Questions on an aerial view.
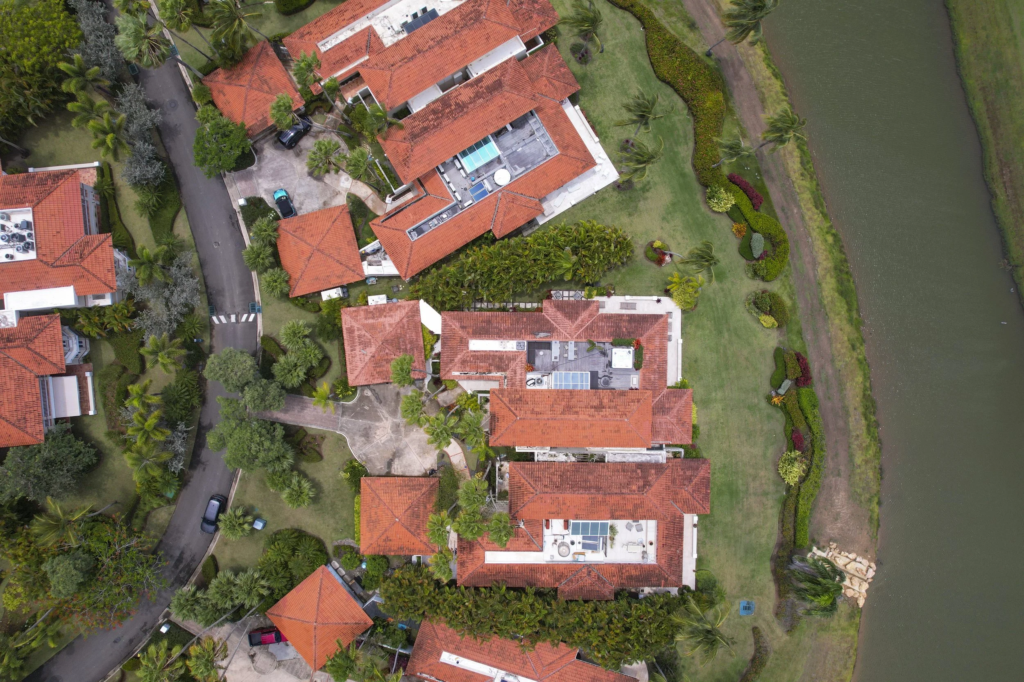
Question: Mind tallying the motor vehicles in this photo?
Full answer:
There are 4 motor vehicles in the image.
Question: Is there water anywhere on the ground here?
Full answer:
Yes, the picture does contain water.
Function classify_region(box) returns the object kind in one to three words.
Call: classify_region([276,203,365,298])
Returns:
building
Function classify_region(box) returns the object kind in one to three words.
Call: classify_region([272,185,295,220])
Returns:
car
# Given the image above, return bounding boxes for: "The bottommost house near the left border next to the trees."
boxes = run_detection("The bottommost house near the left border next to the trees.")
[0,309,102,448]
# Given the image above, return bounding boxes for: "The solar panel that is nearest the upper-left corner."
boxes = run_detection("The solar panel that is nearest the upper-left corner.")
[404,8,439,33]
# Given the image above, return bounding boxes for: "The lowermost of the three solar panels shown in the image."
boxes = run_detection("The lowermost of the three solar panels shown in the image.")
[582,536,598,551]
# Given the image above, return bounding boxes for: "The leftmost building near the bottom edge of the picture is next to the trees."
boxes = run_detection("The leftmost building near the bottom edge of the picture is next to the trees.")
[265,565,374,672]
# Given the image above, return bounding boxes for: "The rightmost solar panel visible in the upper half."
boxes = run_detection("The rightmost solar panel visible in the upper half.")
[469,181,489,202]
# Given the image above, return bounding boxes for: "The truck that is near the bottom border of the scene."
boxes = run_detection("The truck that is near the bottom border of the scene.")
[246,630,292,651]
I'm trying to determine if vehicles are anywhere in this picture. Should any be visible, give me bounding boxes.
[246,630,292,651]
[197,494,224,537]
[272,113,313,150]
[272,185,295,220]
